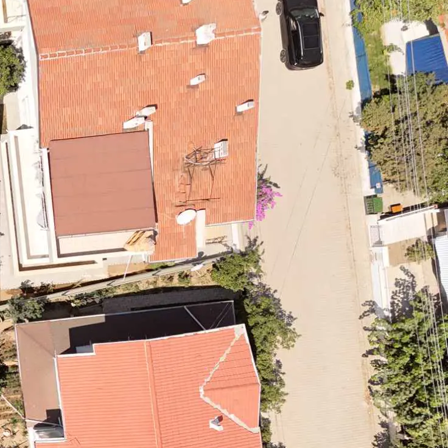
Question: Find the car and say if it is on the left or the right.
right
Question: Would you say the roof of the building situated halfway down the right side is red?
No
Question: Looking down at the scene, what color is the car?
black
